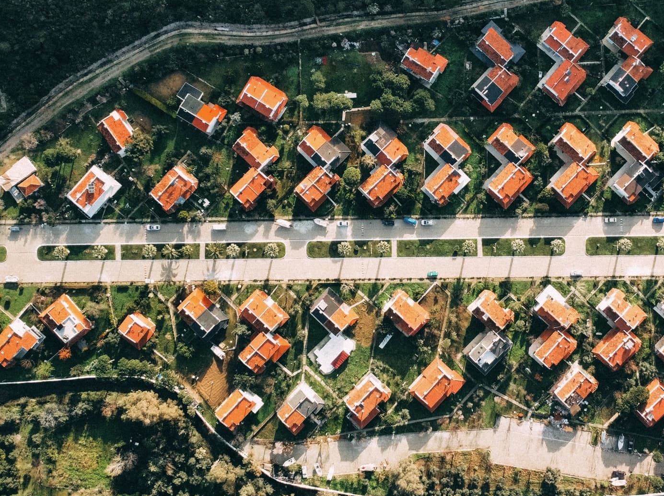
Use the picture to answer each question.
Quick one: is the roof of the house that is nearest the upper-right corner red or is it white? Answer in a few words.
red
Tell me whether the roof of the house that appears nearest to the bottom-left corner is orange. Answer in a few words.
Yes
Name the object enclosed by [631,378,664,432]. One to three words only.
house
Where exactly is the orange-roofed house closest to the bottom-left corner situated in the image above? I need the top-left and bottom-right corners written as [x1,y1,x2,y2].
[0,317,44,367]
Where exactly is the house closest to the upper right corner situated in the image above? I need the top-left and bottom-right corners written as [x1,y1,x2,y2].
[601,18,652,61]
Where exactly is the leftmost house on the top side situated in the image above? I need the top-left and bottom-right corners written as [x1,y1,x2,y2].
[0,157,47,203]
